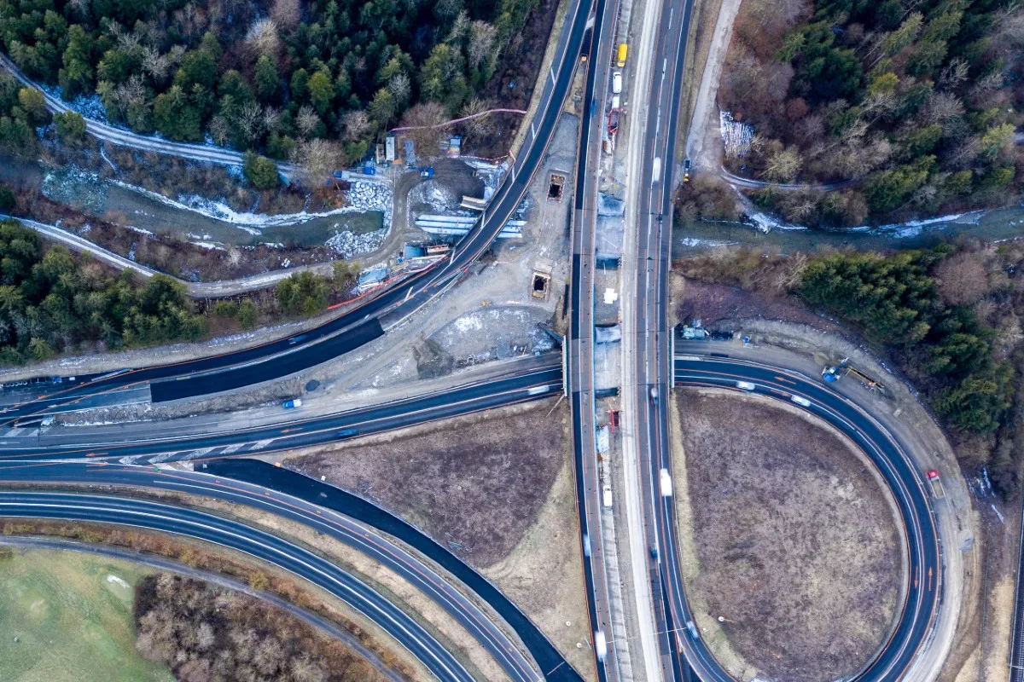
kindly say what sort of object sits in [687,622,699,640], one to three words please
vehicle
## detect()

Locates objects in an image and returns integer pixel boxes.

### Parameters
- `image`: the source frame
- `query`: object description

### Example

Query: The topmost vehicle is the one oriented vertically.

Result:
[617,39,629,65]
